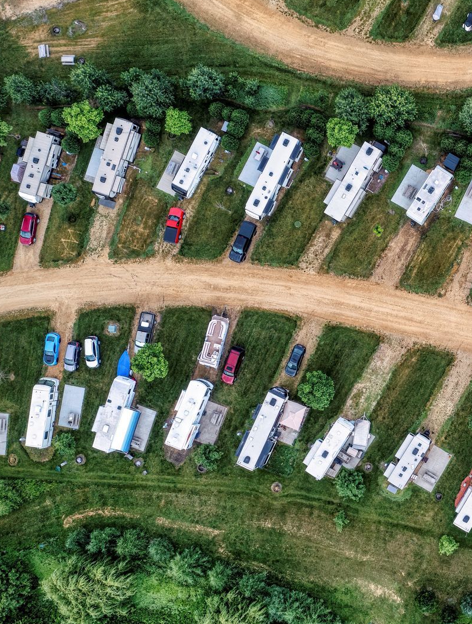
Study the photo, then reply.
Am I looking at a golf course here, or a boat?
boat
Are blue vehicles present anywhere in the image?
Yes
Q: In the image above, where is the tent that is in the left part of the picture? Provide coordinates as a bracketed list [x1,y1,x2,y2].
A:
[6,162,27,182]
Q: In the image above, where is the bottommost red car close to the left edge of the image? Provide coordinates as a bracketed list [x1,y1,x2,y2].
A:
[19,214,39,245]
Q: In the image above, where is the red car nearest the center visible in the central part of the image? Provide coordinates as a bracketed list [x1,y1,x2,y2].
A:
[222,347,245,385]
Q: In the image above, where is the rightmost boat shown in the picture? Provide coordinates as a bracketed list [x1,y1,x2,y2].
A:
[198,310,228,369]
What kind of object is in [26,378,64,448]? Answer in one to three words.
camper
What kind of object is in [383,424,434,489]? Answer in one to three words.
vehicle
